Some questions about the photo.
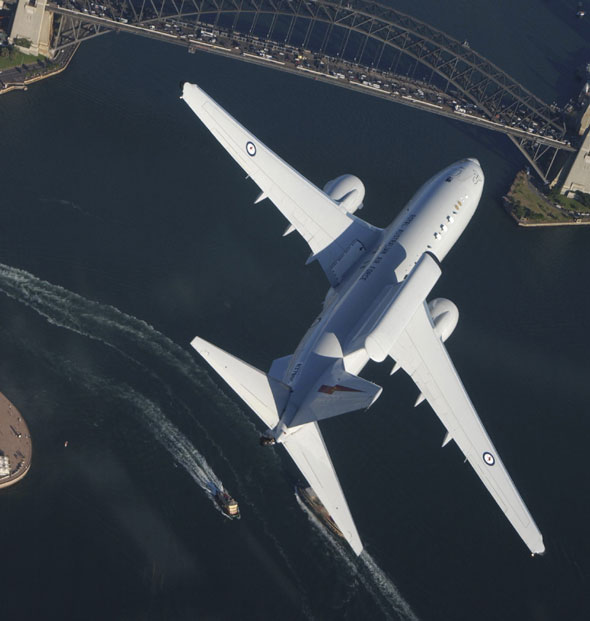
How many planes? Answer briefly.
1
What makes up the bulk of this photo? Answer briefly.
water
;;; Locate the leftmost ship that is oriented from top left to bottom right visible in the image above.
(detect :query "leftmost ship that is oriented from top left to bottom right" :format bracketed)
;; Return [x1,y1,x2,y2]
[219,489,244,519]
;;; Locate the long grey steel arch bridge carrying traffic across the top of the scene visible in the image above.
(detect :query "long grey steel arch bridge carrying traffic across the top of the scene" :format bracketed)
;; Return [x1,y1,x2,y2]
[45,0,585,184]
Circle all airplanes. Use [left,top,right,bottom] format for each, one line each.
[175,75,541,553]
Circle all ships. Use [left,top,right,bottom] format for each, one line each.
[219,489,244,519]
[299,481,352,546]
